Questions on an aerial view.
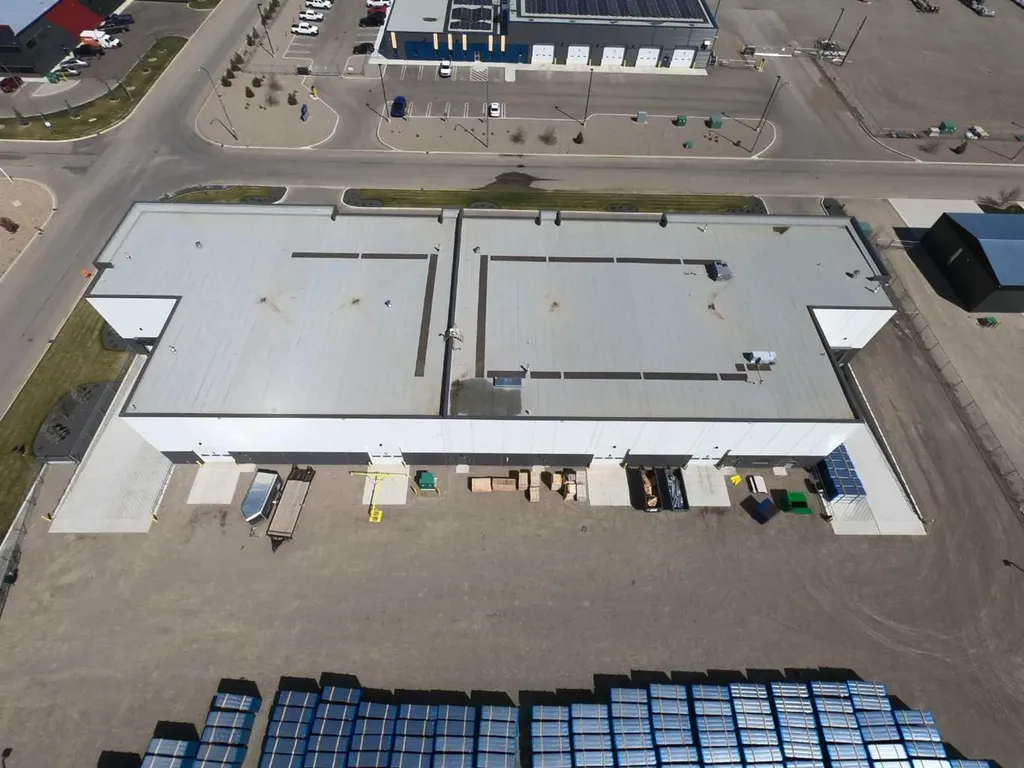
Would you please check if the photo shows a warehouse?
Yes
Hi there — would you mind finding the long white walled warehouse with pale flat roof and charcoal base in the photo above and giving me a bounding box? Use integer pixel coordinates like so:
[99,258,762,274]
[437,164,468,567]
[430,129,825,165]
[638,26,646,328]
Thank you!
[85,202,895,468]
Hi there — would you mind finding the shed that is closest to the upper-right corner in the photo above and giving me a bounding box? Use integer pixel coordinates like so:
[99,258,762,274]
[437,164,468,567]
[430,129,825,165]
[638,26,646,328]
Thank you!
[921,212,1024,312]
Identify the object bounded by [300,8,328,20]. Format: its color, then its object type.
white vehicle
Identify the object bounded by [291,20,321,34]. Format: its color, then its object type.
white vehicle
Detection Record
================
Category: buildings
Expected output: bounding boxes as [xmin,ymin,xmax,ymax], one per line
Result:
[85,202,895,468]
[0,0,129,76]
[921,212,1024,312]
[384,0,719,69]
